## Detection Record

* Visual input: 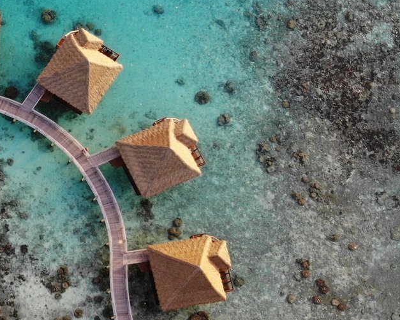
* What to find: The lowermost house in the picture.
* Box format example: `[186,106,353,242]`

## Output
[133,233,232,310]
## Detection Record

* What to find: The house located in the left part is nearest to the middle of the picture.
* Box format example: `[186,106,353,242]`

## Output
[109,117,205,198]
